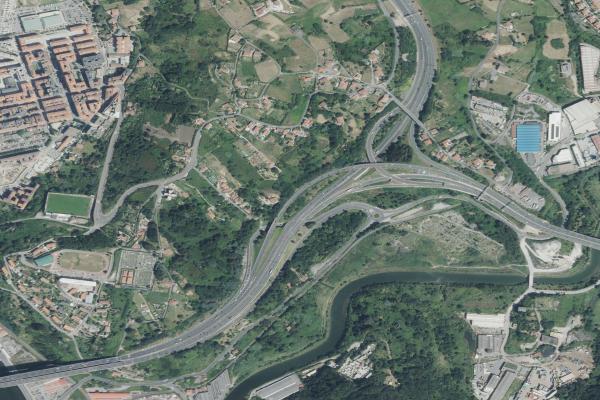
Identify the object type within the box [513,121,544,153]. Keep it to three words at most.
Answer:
building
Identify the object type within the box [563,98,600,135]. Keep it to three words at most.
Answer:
building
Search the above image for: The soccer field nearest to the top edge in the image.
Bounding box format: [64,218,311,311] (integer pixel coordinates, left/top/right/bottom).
[45,192,93,217]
